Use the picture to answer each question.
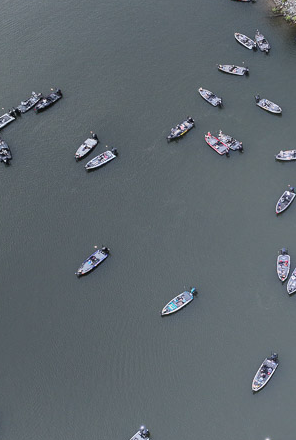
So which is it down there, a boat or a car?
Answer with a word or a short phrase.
boat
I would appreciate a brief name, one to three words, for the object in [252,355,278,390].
boat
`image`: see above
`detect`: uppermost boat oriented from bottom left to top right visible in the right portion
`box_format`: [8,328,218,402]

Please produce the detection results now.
[168,116,195,137]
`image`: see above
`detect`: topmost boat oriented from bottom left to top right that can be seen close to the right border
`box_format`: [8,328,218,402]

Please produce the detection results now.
[276,188,295,212]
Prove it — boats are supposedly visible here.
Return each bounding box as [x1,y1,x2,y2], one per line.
[0,139,10,163]
[234,32,256,50]
[162,288,195,314]
[0,110,16,129]
[17,93,41,114]
[200,87,221,107]
[255,31,270,53]
[219,132,243,151]
[277,250,289,281]
[276,188,295,212]
[78,246,110,273]
[276,149,296,159]
[36,89,63,110]
[252,355,278,390]
[206,135,229,155]
[218,64,248,76]
[129,429,150,440]
[76,135,97,157]
[85,147,117,168]
[287,269,296,294]
[168,116,195,137]
[255,96,281,113]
